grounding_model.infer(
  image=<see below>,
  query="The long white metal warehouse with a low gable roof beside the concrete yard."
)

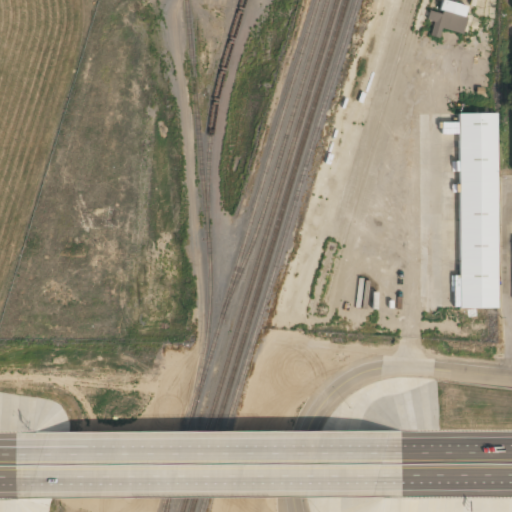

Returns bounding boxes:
[440,113,500,308]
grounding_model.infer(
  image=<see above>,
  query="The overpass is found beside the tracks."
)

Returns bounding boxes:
[17,431,402,498]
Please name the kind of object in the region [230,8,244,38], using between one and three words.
rail car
